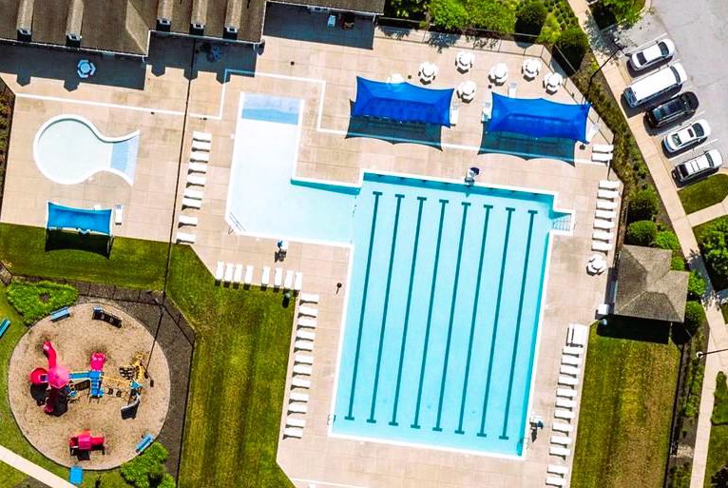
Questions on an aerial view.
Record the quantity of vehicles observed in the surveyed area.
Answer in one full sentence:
The picture shows 5 vehicles.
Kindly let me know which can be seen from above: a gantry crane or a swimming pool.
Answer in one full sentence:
I can see a swimming pool in this picture.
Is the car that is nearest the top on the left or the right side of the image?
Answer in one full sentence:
The car that is nearest the top sits on the right side.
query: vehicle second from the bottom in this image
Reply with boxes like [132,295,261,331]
[660,118,711,154]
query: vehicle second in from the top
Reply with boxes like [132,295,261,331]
[623,64,688,108]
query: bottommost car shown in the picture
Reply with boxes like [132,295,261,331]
[671,147,724,184]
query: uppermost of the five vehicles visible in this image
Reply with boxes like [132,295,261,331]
[627,38,675,74]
